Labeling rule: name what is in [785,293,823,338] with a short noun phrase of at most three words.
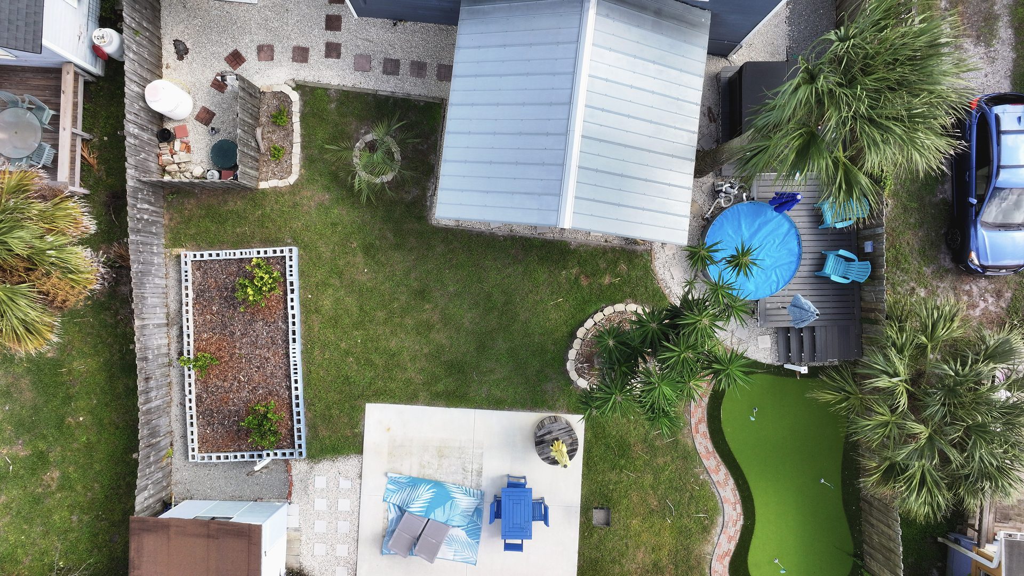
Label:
umbrella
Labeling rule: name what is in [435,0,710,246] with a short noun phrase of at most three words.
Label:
building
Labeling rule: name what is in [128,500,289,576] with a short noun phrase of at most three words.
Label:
shed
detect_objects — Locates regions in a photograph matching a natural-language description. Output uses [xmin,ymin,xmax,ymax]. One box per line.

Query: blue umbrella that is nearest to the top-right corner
[771,192,808,211]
